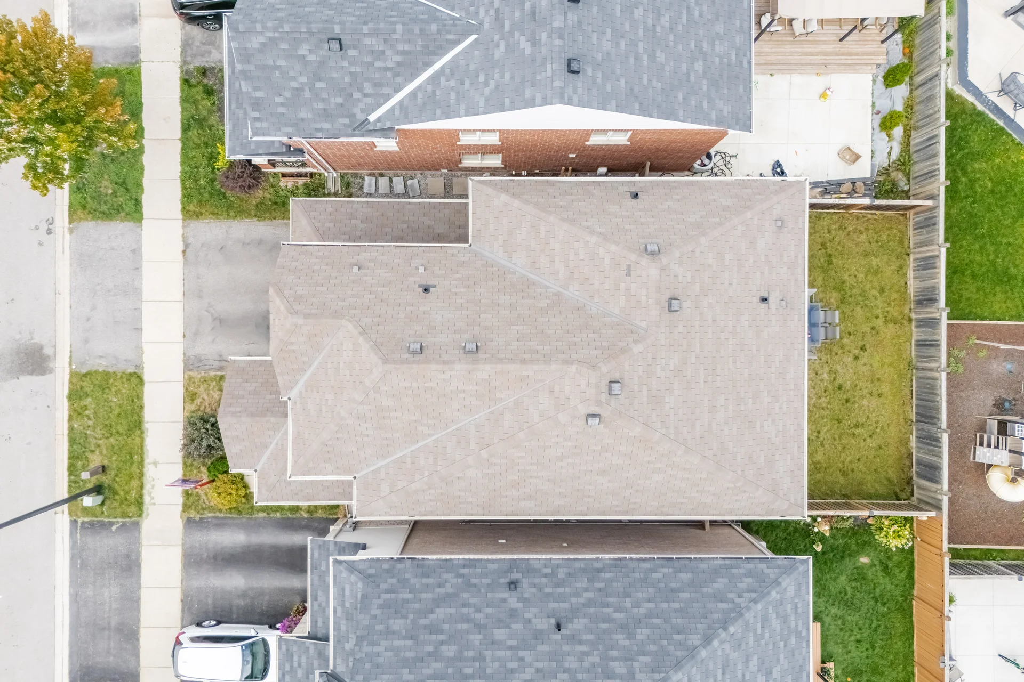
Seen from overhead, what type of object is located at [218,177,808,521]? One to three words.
house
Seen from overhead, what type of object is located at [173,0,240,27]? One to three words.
car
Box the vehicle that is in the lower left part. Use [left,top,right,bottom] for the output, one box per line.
[172,617,301,682]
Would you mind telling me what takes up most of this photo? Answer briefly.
buildings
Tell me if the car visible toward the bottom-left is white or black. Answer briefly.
white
